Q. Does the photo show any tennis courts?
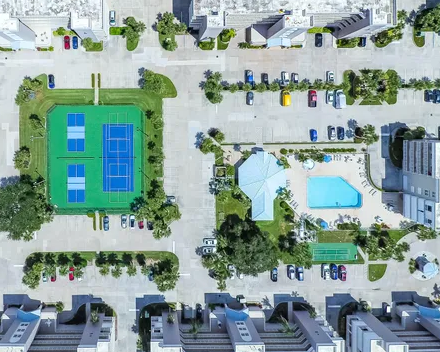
Yes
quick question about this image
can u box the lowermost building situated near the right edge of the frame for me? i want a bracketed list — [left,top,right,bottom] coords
[344,305,440,352]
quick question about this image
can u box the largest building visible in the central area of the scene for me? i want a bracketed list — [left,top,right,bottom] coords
[239,151,286,220]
